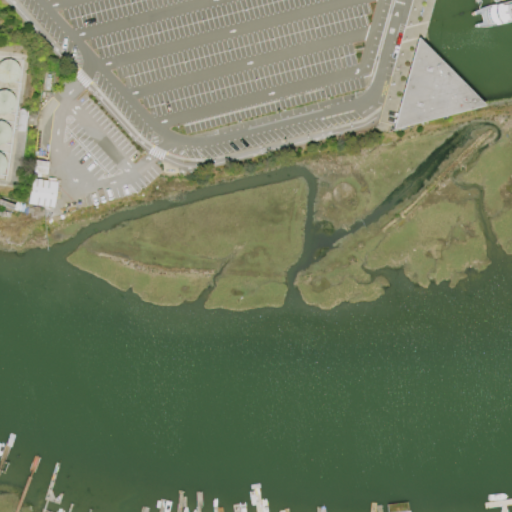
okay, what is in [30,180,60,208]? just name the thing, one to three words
building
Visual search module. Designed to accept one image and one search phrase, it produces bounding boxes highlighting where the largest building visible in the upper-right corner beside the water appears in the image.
[394,36,488,128]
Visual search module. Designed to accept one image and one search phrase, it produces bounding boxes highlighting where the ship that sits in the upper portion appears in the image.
[472,4,512,32]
